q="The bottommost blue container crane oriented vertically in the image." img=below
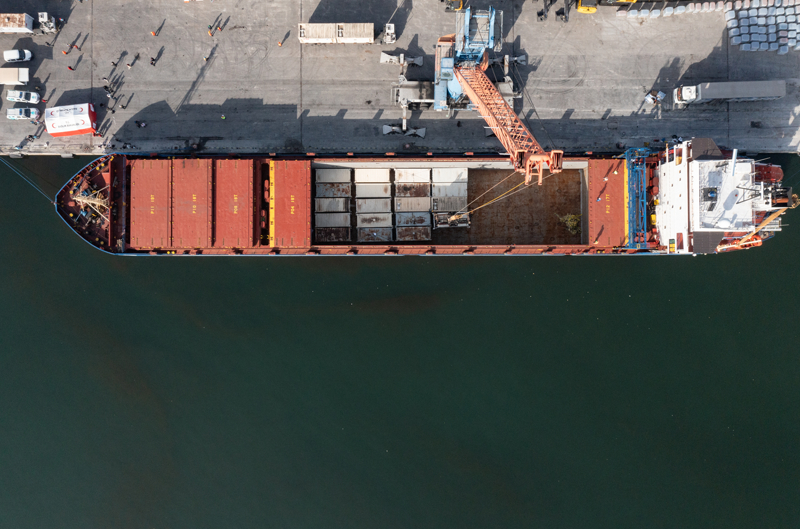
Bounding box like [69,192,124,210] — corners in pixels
[614,144,659,252]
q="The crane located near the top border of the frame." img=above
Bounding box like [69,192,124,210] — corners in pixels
[383,2,563,188]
